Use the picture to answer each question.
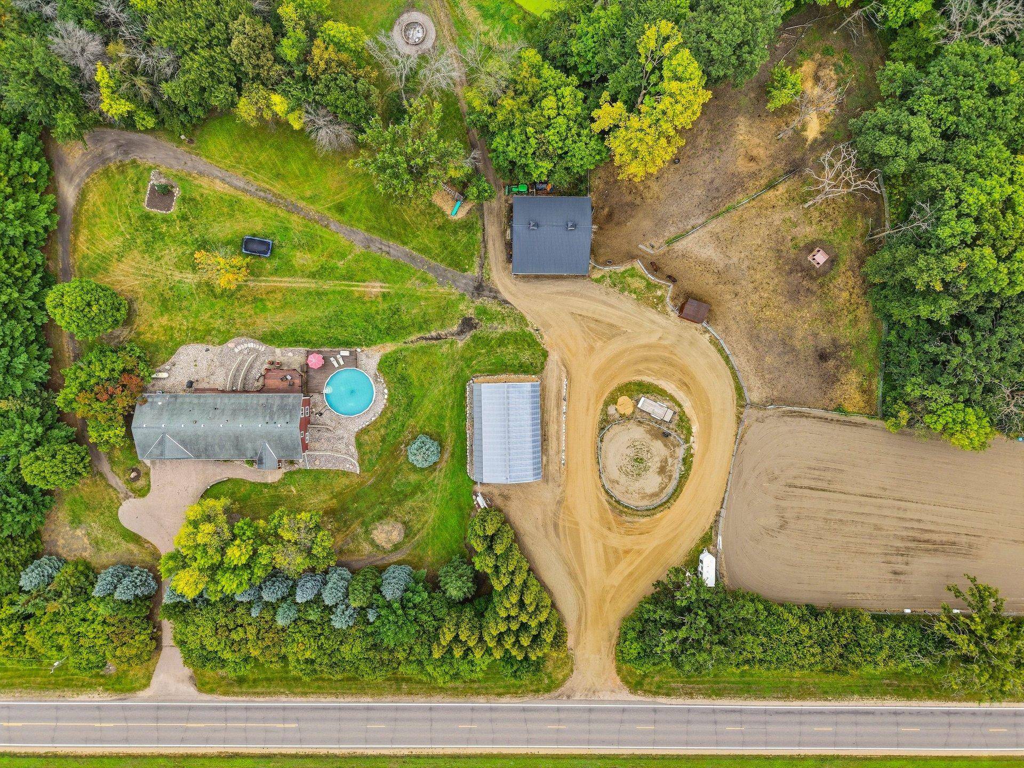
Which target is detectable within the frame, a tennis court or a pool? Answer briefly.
pool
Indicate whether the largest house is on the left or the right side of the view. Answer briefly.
left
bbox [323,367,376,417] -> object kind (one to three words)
swimming pool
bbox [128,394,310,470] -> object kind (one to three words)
house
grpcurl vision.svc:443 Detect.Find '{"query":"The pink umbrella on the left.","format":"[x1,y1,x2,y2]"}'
[308,353,325,370]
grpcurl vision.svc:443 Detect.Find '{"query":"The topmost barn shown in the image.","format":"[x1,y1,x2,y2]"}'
[513,196,593,277]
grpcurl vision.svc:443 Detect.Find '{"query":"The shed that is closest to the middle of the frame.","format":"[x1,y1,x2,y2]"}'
[472,381,541,483]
